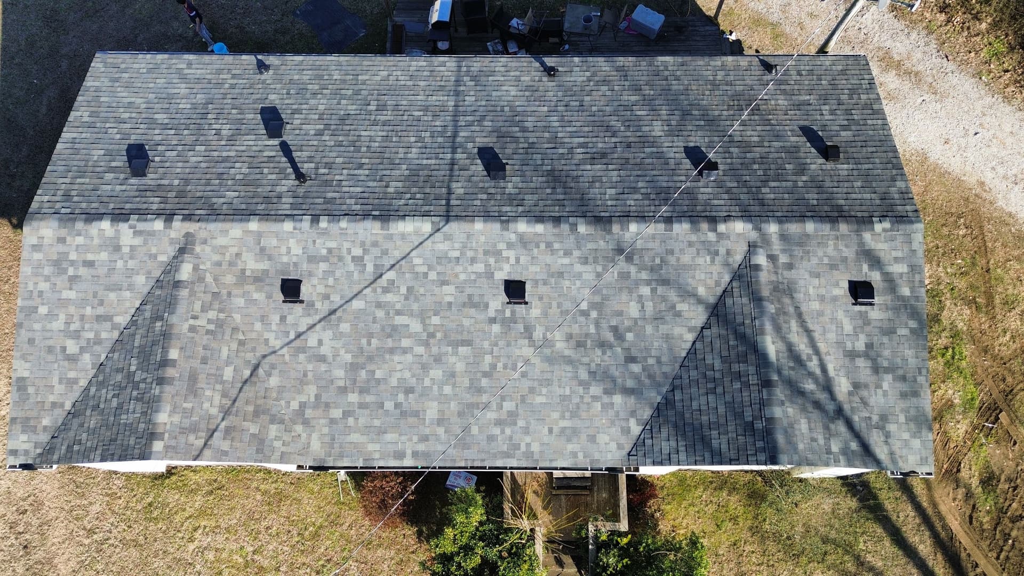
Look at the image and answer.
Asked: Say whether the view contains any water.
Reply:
No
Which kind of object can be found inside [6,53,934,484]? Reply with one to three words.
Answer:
house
